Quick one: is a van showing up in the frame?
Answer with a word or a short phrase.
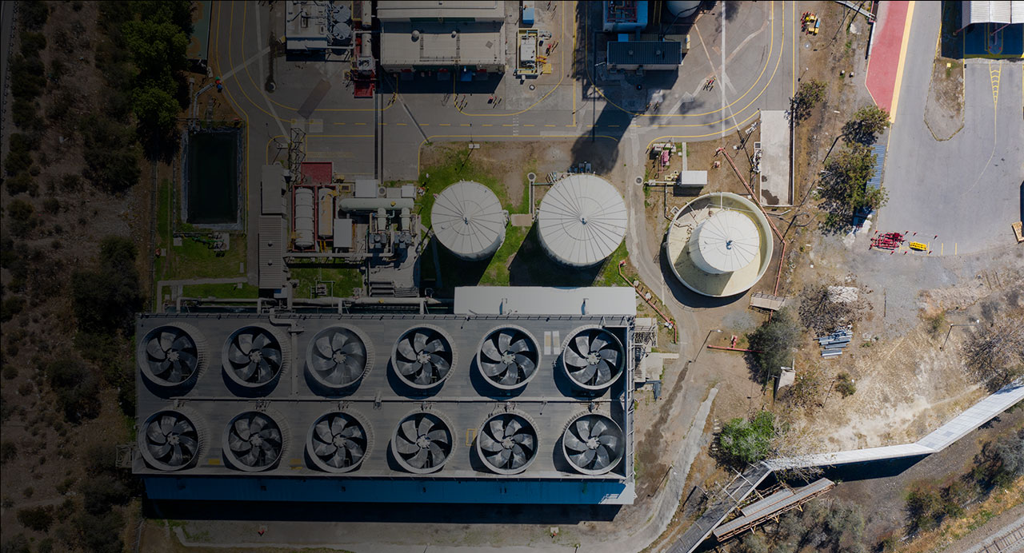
No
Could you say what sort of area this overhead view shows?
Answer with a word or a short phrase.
industrial area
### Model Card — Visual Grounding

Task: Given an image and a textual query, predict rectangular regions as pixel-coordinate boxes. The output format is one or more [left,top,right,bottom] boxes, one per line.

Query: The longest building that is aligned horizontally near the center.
[454,287,636,315]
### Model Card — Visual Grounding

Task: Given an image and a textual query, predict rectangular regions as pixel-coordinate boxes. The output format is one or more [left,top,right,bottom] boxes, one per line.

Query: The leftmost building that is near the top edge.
[286,0,331,52]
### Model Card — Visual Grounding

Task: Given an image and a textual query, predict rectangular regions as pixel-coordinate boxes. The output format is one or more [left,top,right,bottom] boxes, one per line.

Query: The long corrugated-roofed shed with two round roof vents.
[258,216,288,289]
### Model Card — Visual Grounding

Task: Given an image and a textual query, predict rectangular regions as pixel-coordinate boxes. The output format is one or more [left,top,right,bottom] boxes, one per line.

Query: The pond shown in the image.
[181,124,245,232]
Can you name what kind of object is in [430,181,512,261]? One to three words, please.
storage tank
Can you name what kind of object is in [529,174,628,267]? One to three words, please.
storage tank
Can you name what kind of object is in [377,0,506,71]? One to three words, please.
building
